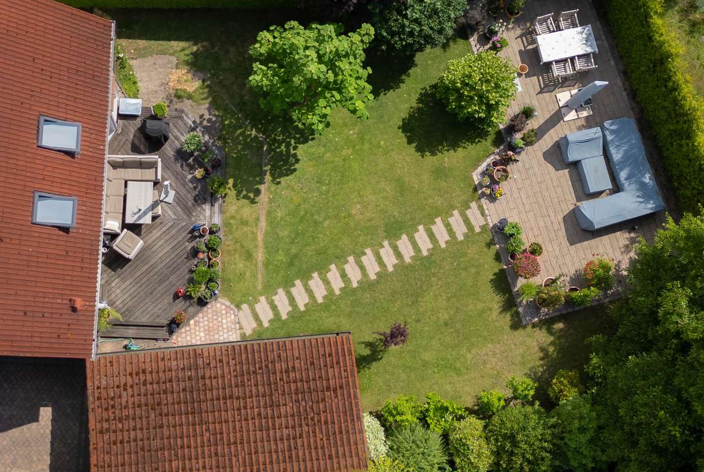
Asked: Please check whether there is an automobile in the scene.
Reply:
No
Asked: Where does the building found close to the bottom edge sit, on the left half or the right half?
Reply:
left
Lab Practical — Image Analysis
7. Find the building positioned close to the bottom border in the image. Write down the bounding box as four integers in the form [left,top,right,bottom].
[87,330,367,472]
